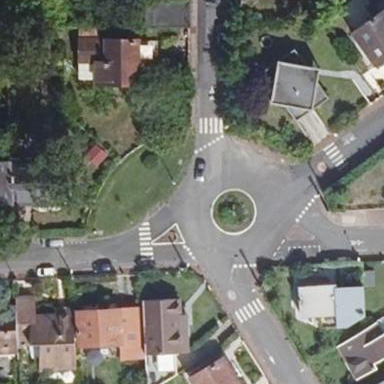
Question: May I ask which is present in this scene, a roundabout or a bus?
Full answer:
The one in the frame is a roundabout.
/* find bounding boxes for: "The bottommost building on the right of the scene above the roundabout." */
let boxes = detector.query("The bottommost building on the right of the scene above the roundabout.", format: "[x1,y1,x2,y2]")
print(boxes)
[273,61,328,119]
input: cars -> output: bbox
[36,266,56,276]
[41,238,63,248]
[194,158,206,180]
[92,262,114,272]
